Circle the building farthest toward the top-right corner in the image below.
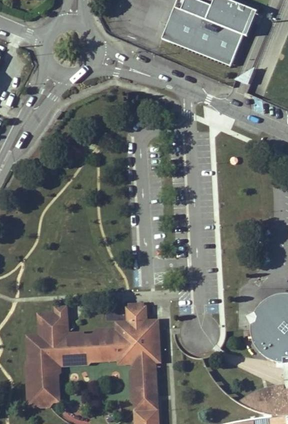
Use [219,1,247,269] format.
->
[162,0,257,68]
